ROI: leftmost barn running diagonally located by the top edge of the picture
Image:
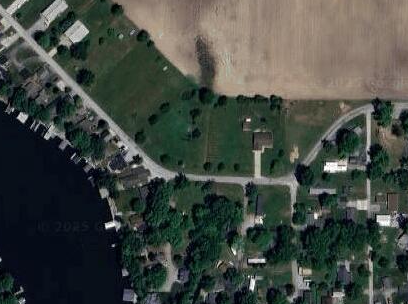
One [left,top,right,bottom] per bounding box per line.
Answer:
[42,0,68,25]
